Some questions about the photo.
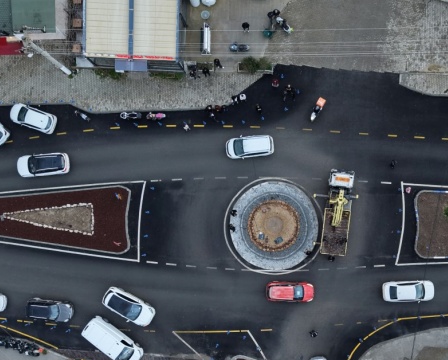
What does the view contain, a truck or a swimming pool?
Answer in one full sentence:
The image shows a truck.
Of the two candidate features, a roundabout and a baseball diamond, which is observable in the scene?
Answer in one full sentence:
Looking from above, you can make out a roundabout.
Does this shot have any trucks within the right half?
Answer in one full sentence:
Yes, a truck can be seen within the right half.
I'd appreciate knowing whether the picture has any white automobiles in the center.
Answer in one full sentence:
Yes, looking in the center, one can make out a white automobile.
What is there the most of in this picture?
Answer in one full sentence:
The bulk of the photo consists of paved ground.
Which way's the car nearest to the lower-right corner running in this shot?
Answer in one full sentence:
From this overhead view, the car nearest to the lower-right corner appears to run horizontally.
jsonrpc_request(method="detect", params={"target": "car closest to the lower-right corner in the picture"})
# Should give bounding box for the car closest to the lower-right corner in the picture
[381,279,433,304]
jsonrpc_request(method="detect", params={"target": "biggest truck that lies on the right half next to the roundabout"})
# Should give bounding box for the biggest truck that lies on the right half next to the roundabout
[315,168,363,257]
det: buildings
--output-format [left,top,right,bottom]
[81,0,182,75]
[0,0,68,44]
